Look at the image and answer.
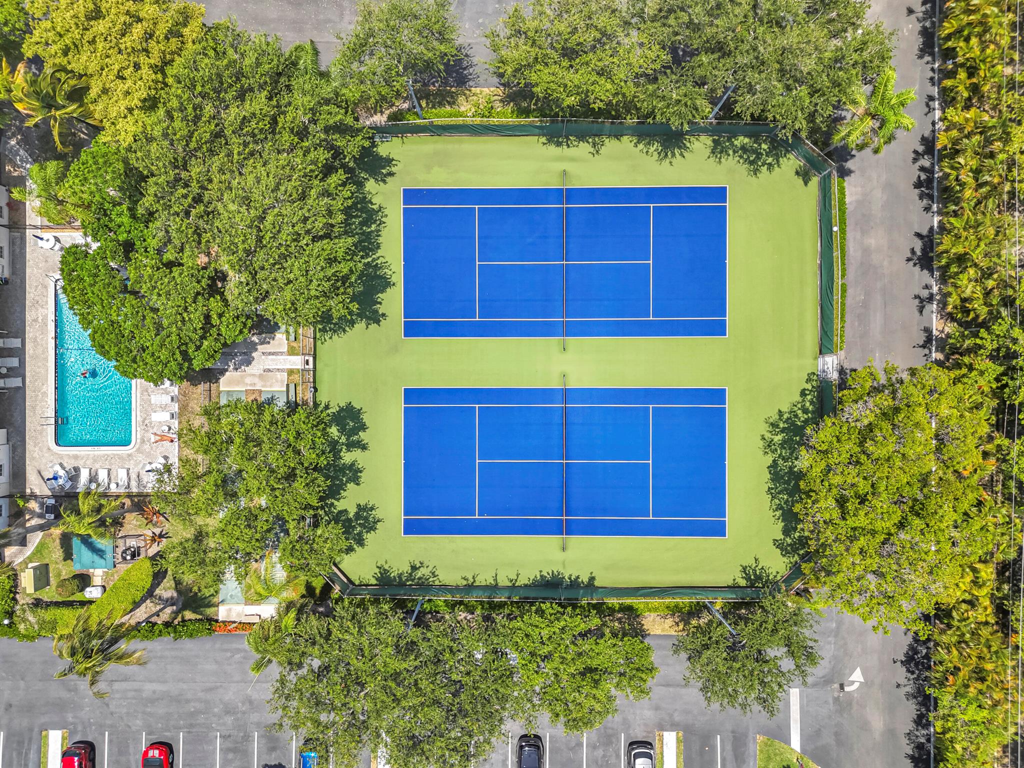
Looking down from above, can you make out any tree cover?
Yes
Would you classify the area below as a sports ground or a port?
sports ground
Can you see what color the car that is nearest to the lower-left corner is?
red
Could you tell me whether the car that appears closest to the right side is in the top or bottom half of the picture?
bottom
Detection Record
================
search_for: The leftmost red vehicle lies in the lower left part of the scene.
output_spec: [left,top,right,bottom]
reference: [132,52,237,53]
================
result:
[59,745,95,768]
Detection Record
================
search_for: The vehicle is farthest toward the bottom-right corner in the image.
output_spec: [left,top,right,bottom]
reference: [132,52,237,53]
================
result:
[627,744,653,768]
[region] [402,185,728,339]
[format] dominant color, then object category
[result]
blue tennis court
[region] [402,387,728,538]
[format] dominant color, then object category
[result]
blue tennis court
